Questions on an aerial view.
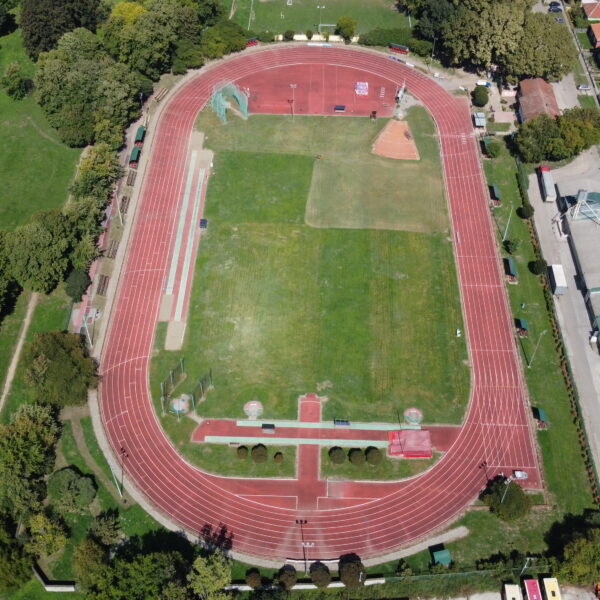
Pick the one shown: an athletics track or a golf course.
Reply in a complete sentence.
The image shows an athletics track.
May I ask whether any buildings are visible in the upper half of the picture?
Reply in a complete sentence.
Yes, a building appears in the upper half of the picture.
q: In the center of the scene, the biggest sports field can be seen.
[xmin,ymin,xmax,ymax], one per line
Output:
[148,86,473,482]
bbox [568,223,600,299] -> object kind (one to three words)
building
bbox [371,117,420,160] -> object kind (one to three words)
sports field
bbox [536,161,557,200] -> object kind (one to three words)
truck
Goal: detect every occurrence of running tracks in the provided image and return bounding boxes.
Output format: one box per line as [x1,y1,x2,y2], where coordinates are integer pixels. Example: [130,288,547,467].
[97,45,546,565]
